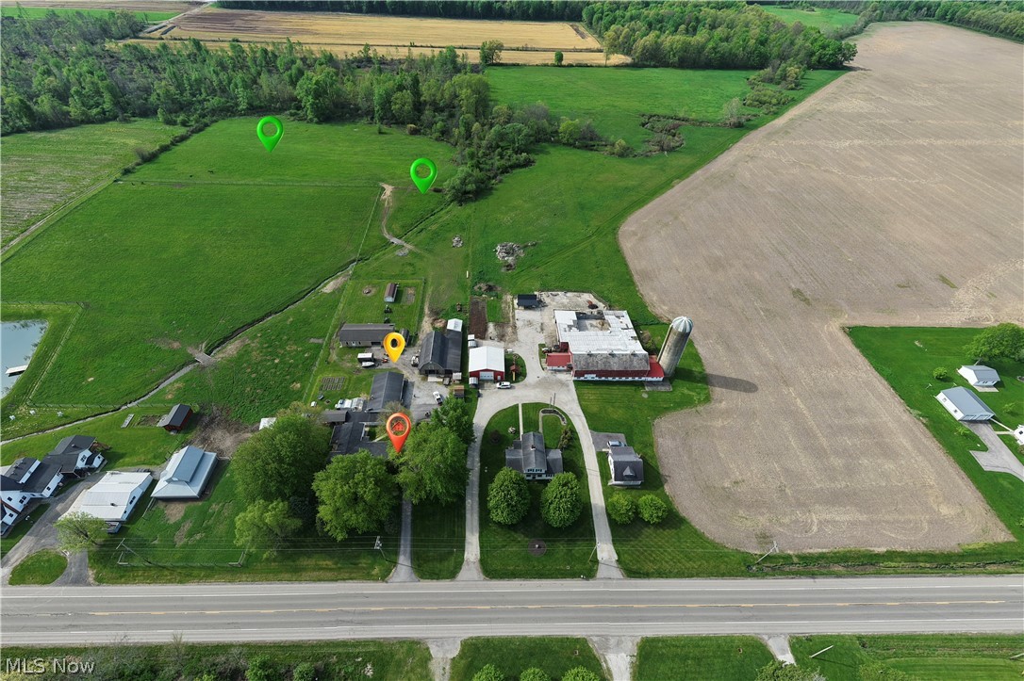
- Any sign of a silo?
Yes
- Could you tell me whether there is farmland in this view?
Yes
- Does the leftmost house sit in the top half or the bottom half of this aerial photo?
bottom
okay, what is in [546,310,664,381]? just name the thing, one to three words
barn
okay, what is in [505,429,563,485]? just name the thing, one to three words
house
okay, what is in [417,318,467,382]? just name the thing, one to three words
barn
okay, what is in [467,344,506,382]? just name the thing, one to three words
building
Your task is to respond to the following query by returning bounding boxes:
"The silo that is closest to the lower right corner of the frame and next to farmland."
[657,317,696,380]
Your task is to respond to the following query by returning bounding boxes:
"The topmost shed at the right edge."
[960,360,1002,387]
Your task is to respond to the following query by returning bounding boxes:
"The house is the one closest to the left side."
[0,432,111,517]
